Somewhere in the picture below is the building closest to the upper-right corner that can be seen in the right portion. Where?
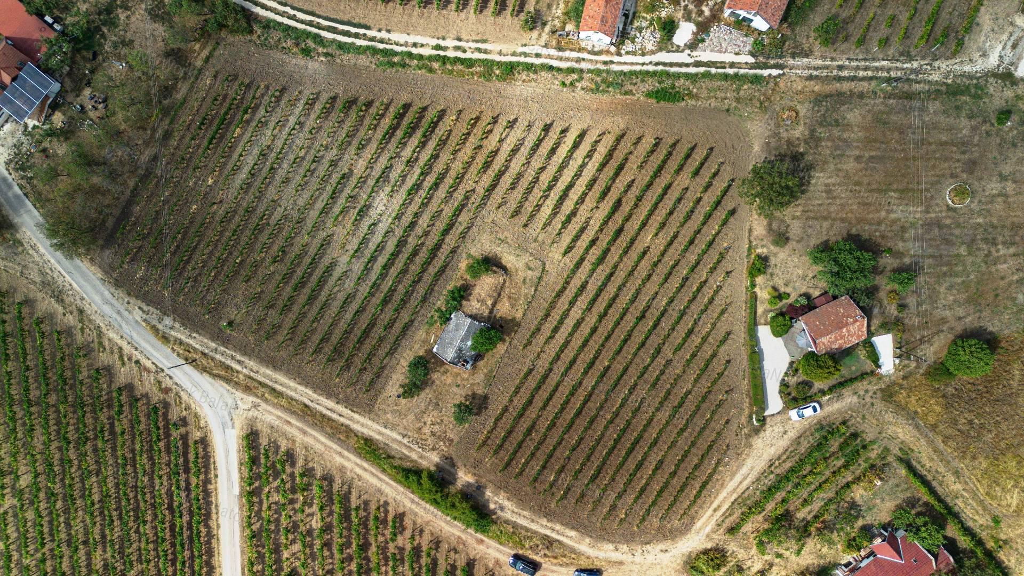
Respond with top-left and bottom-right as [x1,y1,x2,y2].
[722,0,789,32]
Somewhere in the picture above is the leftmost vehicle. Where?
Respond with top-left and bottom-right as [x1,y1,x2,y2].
[506,552,540,576]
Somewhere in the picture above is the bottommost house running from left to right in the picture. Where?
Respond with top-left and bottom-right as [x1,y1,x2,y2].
[846,527,957,576]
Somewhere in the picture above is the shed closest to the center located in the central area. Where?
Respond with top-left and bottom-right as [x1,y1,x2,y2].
[431,310,492,370]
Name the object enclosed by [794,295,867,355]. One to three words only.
house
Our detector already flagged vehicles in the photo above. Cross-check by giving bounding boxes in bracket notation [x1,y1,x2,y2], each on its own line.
[571,567,603,576]
[506,552,540,576]
[788,401,822,420]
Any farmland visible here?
Yes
